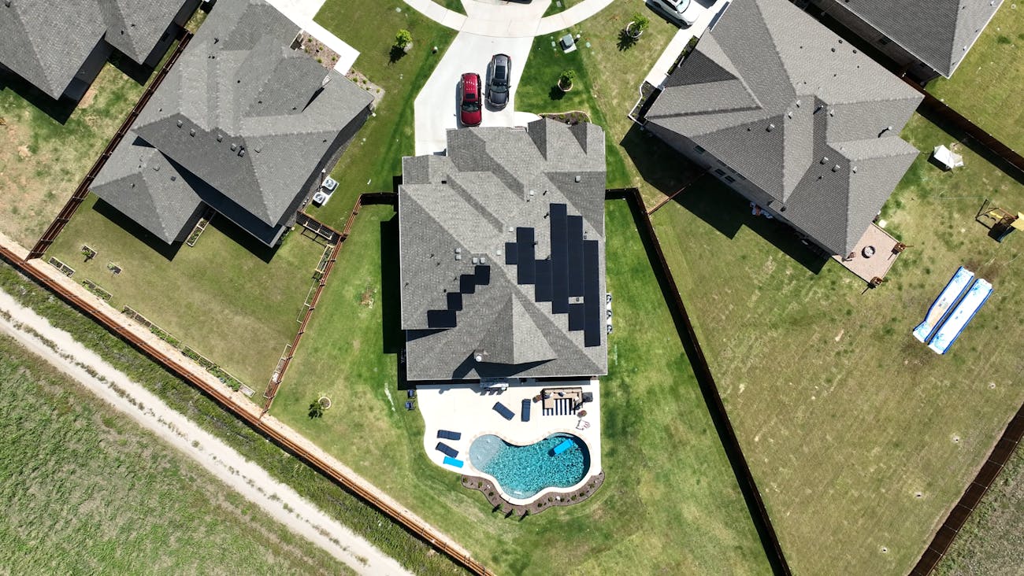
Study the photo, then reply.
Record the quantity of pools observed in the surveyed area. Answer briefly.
1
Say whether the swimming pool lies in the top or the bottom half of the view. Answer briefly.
bottom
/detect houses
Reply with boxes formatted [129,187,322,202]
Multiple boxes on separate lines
[811,0,1004,81]
[644,0,925,260]
[88,0,375,248]
[0,0,198,102]
[398,118,608,381]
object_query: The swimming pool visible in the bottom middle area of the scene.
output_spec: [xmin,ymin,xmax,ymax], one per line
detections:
[467,429,594,503]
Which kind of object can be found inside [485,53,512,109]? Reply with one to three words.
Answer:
car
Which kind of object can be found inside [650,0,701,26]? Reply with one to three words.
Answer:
car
